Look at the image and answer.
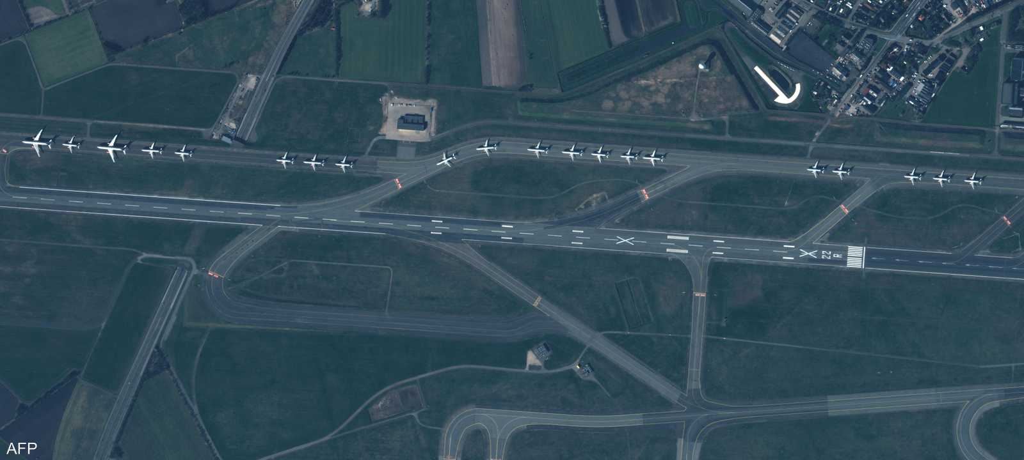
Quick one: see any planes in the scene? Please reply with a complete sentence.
Yes, this view includes a plane.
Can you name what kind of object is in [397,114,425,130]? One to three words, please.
building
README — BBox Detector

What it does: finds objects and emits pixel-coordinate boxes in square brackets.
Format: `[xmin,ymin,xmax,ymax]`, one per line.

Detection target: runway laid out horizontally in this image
[0,186,1024,279]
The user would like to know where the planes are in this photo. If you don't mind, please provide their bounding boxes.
[528,143,548,158]
[904,169,921,185]
[437,153,456,168]
[562,145,582,160]
[98,135,126,163]
[643,150,663,167]
[22,130,51,157]
[964,174,981,190]
[477,140,496,156]
[621,150,638,164]
[62,138,80,153]
[592,147,609,163]
[175,145,192,161]
[277,153,294,169]
[142,143,162,159]
[335,157,353,173]
[933,171,950,188]
[833,164,850,180]
[304,155,323,171]
[807,162,824,177]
